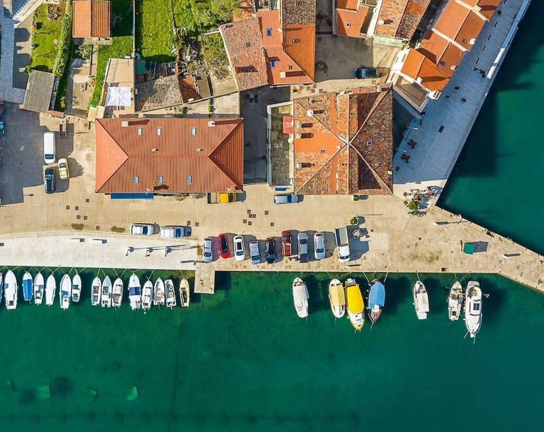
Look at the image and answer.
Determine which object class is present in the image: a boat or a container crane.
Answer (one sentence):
Of the two, only a boat appears.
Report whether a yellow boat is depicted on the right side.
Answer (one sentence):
Yes, a yellow boat is visible on the right side.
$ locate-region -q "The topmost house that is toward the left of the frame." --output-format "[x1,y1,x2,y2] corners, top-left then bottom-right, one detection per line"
[72,0,112,37]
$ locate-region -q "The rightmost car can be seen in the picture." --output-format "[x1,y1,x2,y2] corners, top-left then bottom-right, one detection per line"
[354,66,377,79]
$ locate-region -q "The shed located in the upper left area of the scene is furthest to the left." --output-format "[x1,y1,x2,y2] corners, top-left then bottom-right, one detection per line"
[22,69,58,112]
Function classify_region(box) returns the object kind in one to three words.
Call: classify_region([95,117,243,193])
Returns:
house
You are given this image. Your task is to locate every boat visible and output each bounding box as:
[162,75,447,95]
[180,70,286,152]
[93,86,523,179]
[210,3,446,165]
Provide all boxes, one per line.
[366,272,385,325]
[412,272,430,320]
[58,273,72,314]
[446,273,463,325]
[32,266,45,309]
[90,267,102,310]
[44,272,57,310]
[164,279,177,311]
[21,266,34,304]
[329,273,347,318]
[71,266,83,302]
[153,269,165,310]
[128,269,142,314]
[462,279,482,338]
[178,269,190,308]
[291,271,310,318]
[3,266,19,313]
[344,276,364,332]
[101,275,113,311]
[141,275,154,314]
[112,267,124,311]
